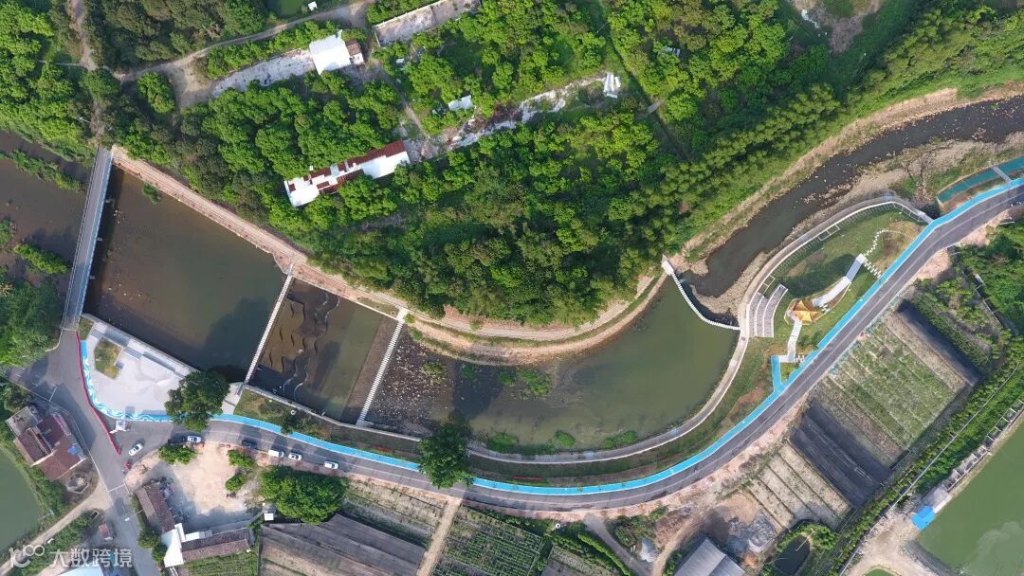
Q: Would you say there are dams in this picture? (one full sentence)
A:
Yes, the picture does show a dam.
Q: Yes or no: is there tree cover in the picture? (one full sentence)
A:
Yes, tree cover shows up in the scene.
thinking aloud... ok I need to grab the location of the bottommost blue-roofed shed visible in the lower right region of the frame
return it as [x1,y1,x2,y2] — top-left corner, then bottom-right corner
[905,502,936,531]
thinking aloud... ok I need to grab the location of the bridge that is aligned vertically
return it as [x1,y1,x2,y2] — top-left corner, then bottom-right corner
[59,141,114,330]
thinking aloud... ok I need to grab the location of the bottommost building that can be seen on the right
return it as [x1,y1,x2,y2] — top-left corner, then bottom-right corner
[670,536,746,576]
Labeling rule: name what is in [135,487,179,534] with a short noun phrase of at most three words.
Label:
barn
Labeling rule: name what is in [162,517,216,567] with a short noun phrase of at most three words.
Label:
house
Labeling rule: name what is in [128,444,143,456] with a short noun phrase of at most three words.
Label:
vehicle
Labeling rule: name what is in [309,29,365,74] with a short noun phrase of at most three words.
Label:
building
